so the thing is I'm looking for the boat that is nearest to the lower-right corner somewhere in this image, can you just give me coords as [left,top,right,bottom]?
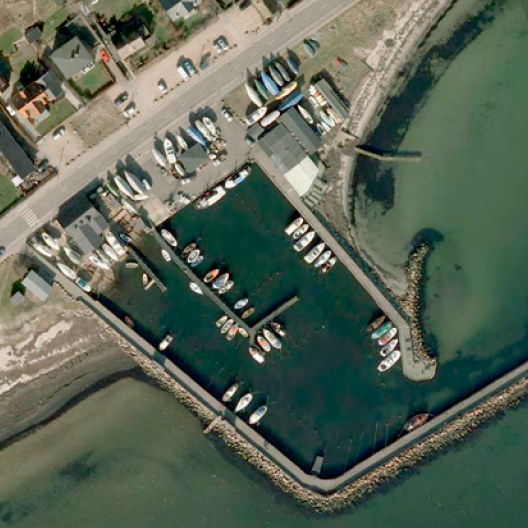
[401,414,431,431]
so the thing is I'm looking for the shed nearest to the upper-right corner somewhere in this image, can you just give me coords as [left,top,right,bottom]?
[315,77,349,120]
